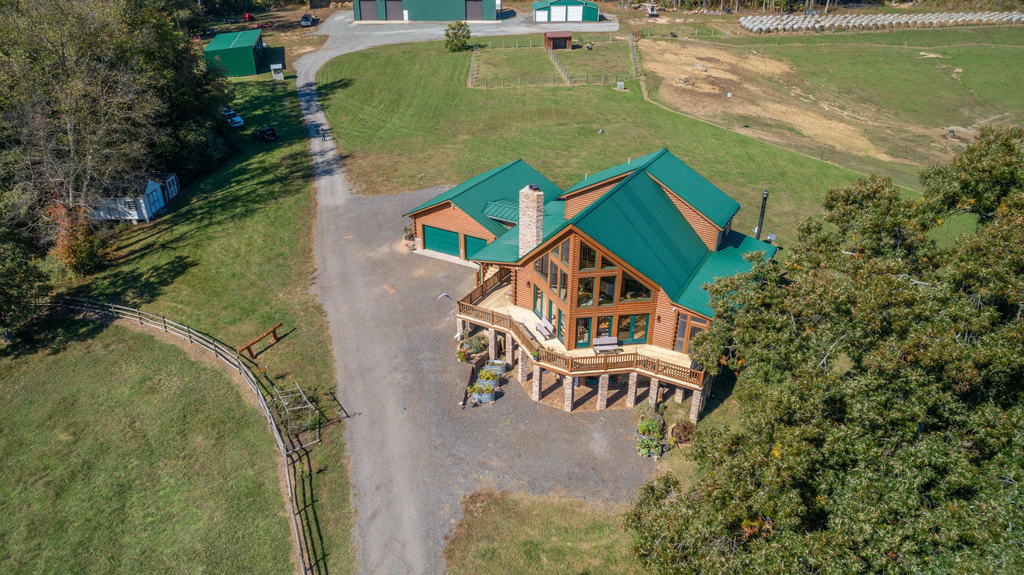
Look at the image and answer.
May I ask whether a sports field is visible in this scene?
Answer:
No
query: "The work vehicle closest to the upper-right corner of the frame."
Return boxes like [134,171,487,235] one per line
[646,4,661,18]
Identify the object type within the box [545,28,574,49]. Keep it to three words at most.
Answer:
shed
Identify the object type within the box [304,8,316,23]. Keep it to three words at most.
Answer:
vehicle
